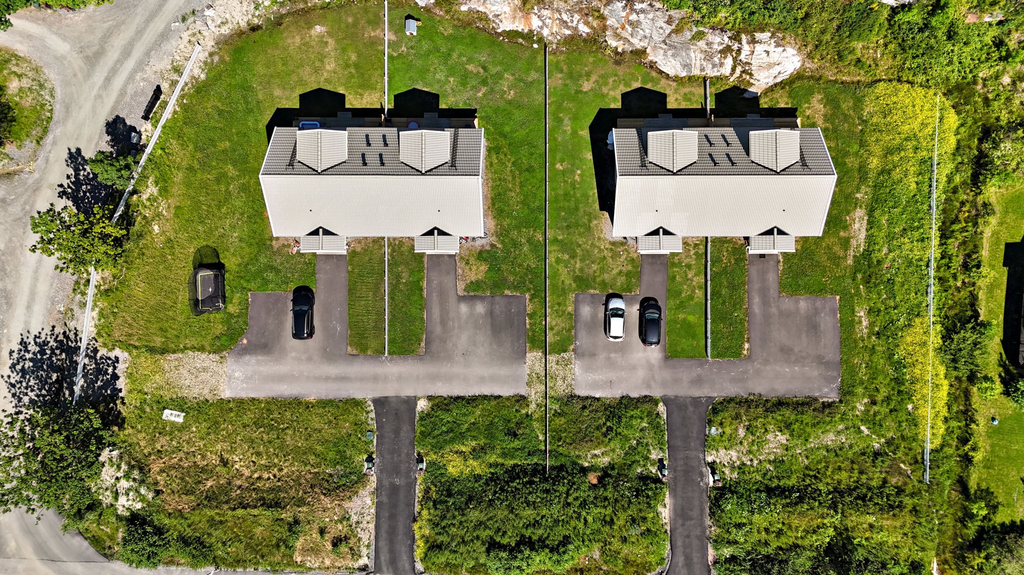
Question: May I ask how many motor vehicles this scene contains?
3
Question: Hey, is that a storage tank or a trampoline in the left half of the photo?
trampoline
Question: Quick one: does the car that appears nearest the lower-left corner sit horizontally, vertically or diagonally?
vertically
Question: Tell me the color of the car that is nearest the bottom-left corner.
black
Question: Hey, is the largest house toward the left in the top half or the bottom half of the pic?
top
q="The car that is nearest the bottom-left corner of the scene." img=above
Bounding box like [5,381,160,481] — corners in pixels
[292,291,317,340]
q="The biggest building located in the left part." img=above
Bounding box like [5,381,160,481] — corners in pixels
[258,127,484,255]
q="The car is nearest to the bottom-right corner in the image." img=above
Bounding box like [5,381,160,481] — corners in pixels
[639,300,662,347]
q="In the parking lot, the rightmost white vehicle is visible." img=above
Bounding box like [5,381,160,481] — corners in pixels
[605,298,627,341]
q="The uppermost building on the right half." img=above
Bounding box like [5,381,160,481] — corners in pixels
[610,127,842,255]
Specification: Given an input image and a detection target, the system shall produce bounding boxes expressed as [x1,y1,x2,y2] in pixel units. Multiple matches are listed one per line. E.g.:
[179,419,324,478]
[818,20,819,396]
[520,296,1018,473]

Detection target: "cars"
[605,298,627,341]
[639,300,662,347]
[292,291,317,340]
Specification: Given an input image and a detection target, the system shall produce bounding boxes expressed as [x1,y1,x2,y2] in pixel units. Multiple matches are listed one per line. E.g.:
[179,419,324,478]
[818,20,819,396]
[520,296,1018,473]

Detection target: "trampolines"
[188,268,228,313]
